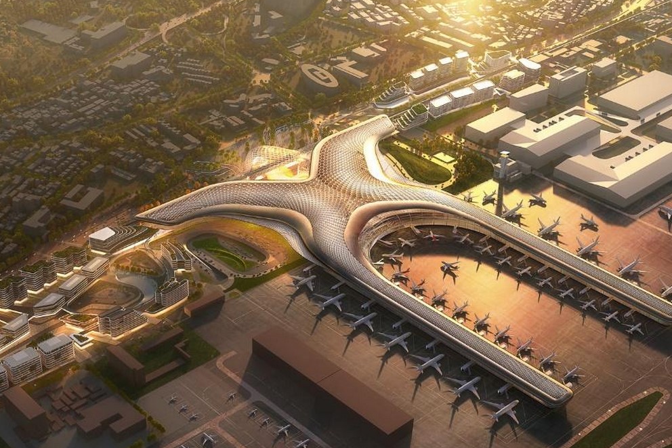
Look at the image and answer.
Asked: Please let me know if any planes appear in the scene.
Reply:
Yes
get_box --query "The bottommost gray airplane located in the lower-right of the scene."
[488,400,517,422]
